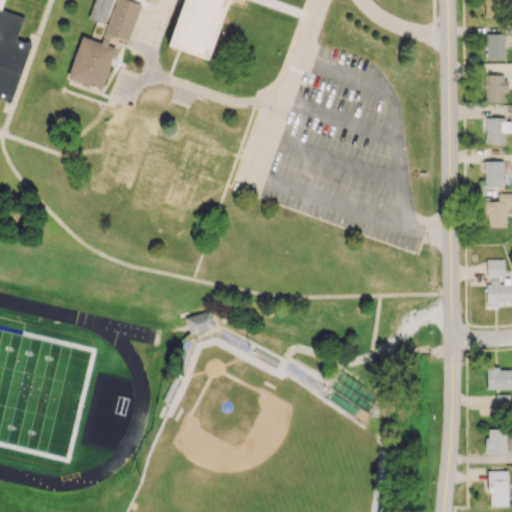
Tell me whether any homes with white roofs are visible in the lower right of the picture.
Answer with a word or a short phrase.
Yes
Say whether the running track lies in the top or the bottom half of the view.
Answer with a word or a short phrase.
bottom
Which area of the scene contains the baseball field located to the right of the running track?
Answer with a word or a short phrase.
bottom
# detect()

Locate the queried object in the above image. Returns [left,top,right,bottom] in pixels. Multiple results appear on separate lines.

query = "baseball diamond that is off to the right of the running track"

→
[138,349,376,512]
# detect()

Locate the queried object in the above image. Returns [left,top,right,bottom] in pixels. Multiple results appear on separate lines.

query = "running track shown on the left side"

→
[0,293,158,491]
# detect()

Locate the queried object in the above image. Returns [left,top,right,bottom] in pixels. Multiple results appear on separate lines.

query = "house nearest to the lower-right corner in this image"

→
[489,470,510,509]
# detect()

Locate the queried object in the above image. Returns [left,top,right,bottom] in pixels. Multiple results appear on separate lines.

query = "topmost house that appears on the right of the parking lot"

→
[488,34,506,62]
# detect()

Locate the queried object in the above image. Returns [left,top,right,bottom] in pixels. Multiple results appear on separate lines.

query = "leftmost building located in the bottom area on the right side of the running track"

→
[187,312,215,336]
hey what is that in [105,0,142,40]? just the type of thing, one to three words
building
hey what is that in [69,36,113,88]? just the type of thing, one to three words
building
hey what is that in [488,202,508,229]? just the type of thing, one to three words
house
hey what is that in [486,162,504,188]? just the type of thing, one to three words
house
